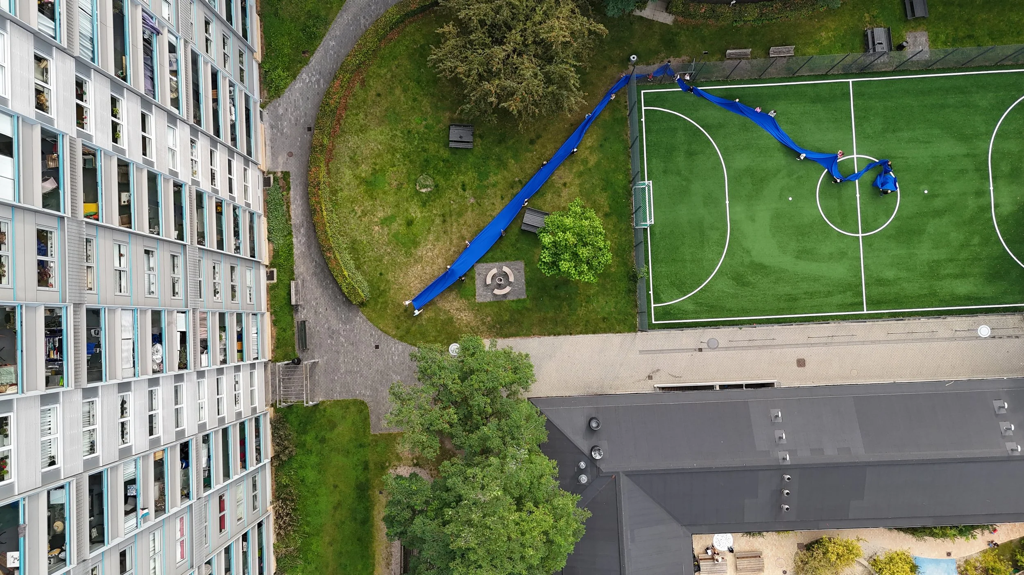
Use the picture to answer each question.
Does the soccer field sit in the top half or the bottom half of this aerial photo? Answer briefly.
top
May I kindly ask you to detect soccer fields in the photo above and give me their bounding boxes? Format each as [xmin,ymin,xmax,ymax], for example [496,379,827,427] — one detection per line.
[626,61,1024,331]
